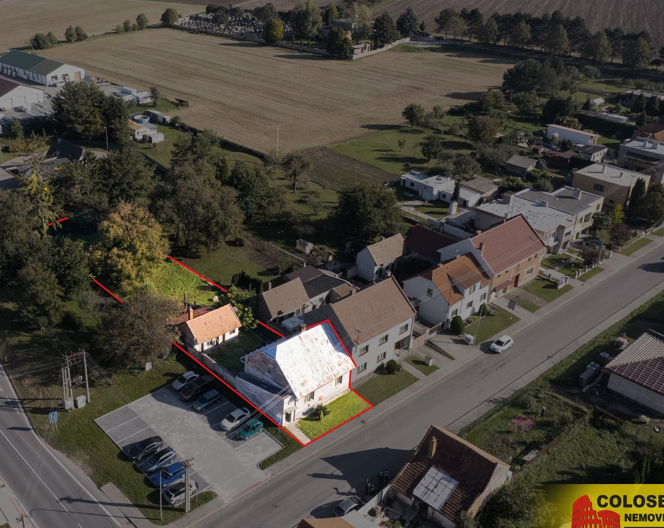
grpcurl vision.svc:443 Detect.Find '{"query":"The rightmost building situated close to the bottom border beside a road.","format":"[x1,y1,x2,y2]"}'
[388,424,524,528]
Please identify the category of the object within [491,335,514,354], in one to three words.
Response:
car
